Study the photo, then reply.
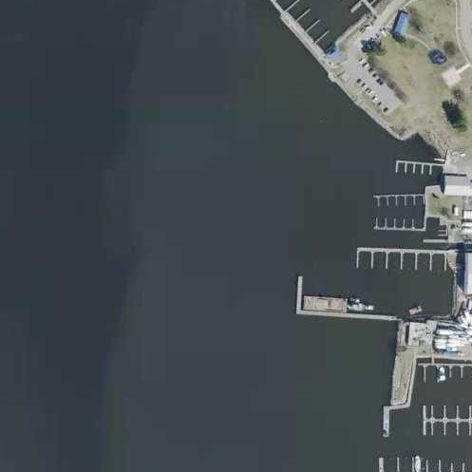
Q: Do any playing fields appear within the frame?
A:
No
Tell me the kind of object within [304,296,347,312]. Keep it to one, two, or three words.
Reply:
ship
